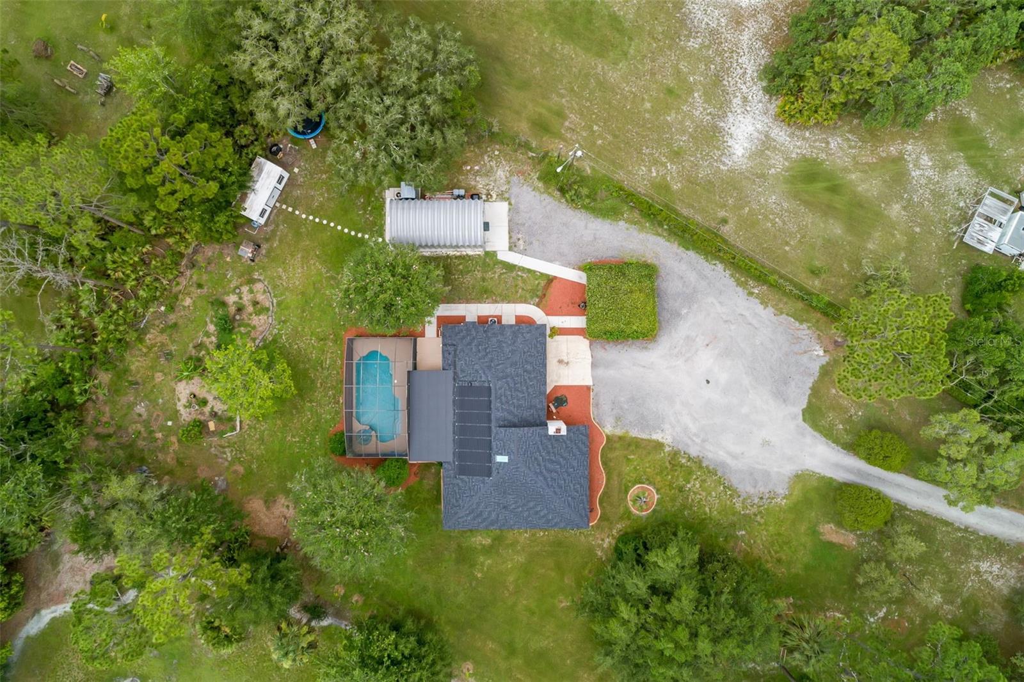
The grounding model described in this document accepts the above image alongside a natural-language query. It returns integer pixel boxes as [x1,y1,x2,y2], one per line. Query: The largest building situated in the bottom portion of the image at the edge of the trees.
[407,322,590,529]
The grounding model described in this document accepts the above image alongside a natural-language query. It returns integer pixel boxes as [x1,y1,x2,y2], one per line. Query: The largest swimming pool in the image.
[354,350,402,444]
